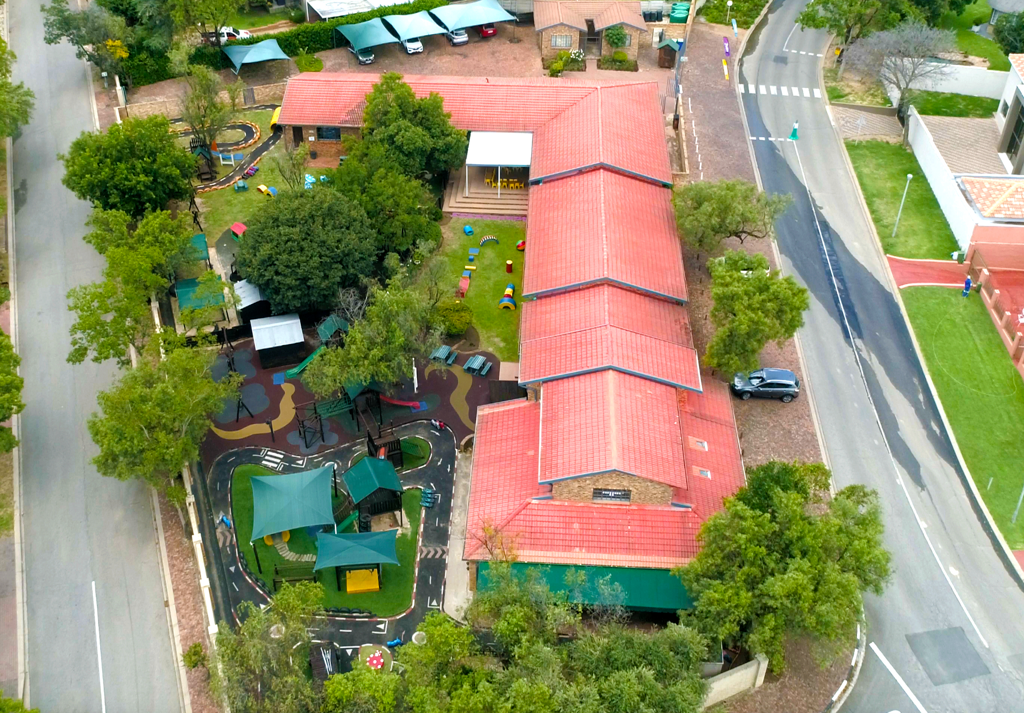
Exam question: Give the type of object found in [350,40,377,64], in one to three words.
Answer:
car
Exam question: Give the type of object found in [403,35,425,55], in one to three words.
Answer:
car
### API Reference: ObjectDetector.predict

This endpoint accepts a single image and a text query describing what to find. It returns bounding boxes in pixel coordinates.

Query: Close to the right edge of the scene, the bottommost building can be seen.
[953,176,1024,259]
